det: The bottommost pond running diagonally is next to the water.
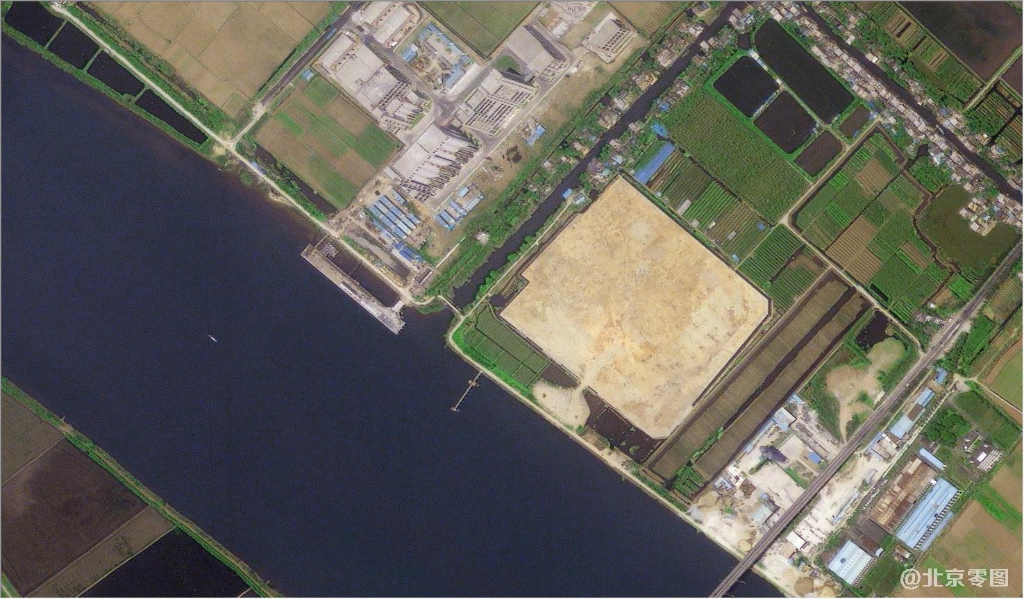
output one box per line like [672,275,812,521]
[650,271,873,505]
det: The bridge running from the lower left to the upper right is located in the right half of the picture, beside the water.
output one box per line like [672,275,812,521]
[709,434,859,599]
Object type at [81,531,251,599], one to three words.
pond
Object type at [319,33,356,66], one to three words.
building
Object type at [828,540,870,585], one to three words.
shed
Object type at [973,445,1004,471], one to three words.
house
